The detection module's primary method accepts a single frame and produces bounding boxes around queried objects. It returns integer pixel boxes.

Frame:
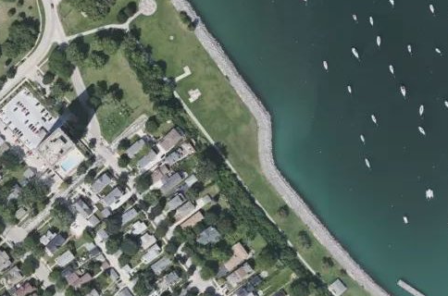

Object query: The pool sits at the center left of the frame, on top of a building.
[60,154,78,172]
